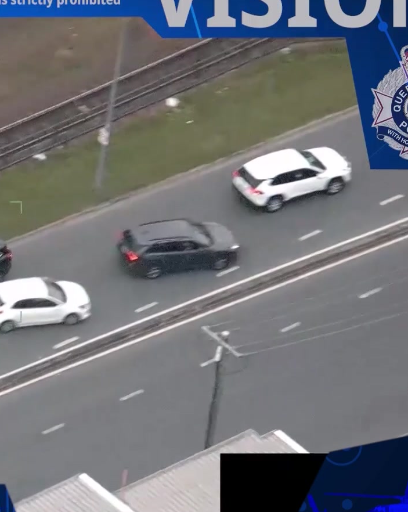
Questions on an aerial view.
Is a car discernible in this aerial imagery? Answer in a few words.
Yes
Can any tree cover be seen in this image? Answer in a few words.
No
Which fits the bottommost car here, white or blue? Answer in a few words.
white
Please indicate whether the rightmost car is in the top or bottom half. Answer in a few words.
top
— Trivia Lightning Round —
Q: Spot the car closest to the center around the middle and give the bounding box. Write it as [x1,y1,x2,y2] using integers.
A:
[119,215,238,279]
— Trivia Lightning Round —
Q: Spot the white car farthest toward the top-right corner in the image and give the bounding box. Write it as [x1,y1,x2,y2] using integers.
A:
[232,142,353,214]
